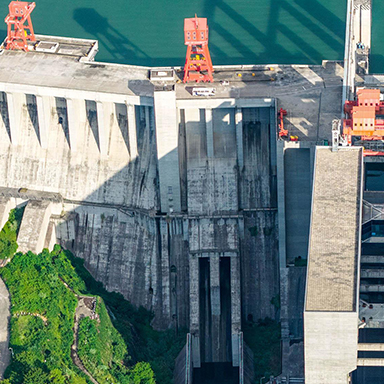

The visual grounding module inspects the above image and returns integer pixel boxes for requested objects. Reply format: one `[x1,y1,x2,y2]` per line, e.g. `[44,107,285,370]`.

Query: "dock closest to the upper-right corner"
[354,0,372,51]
